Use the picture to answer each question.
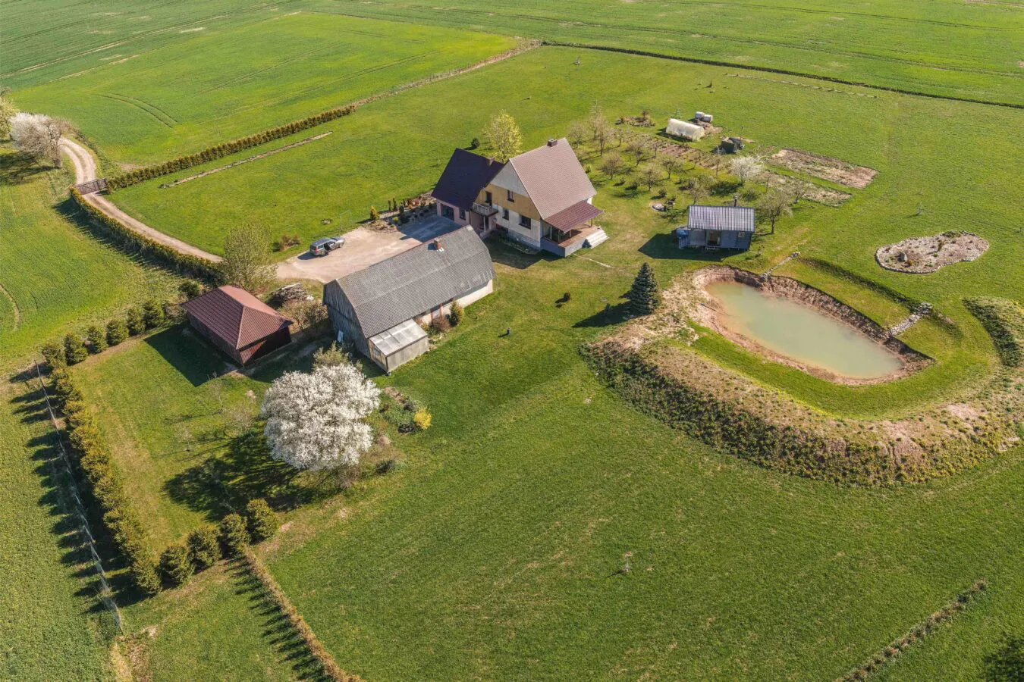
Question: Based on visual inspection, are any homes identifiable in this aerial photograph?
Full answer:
Yes, this view includes a home.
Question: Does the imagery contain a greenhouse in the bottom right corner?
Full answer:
No, I see no greenhouse in the bottom right corner.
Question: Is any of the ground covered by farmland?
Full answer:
Yes, there is farmland in the image.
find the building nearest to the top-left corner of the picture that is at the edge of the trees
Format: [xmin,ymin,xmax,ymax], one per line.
[180,282,294,367]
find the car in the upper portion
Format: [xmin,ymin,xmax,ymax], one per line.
[309,236,344,254]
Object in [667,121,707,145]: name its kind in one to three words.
greenhouse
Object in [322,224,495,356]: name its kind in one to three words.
barn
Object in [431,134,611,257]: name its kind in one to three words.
house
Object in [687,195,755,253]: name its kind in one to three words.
building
